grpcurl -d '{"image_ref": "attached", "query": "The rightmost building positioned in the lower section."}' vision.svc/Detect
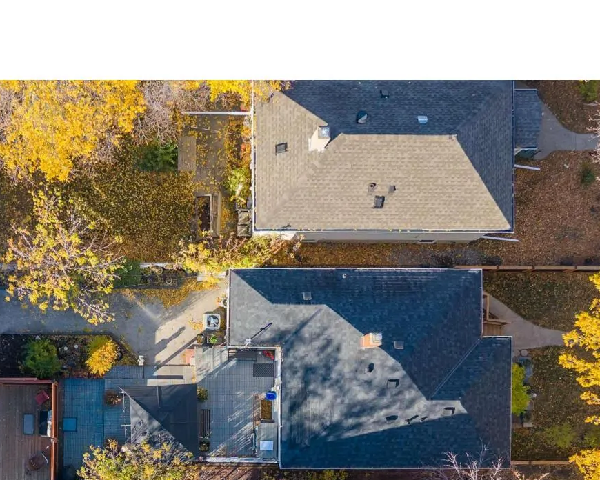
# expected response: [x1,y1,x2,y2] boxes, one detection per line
[227,268,513,472]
